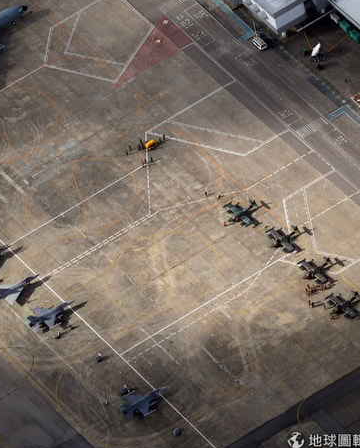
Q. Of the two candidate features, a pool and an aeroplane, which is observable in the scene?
aeroplane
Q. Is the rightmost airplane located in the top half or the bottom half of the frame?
bottom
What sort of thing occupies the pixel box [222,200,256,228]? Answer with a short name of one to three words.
airplane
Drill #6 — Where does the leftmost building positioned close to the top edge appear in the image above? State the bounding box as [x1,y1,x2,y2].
[236,0,308,35]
